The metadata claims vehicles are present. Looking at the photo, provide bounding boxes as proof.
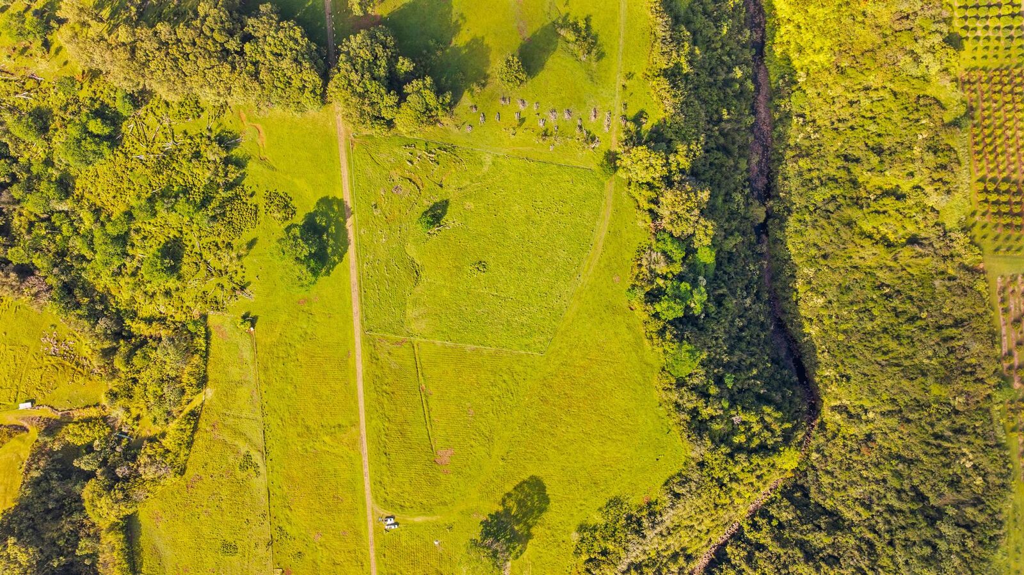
[385,524,399,530]
[383,517,396,523]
